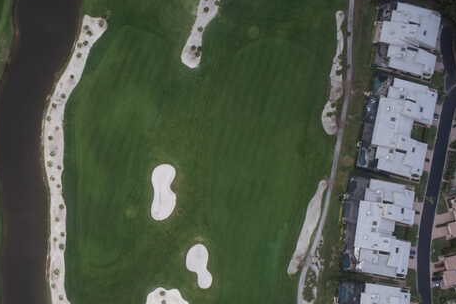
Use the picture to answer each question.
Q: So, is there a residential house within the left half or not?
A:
No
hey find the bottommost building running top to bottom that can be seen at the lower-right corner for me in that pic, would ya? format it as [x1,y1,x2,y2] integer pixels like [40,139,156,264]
[441,255,456,291]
